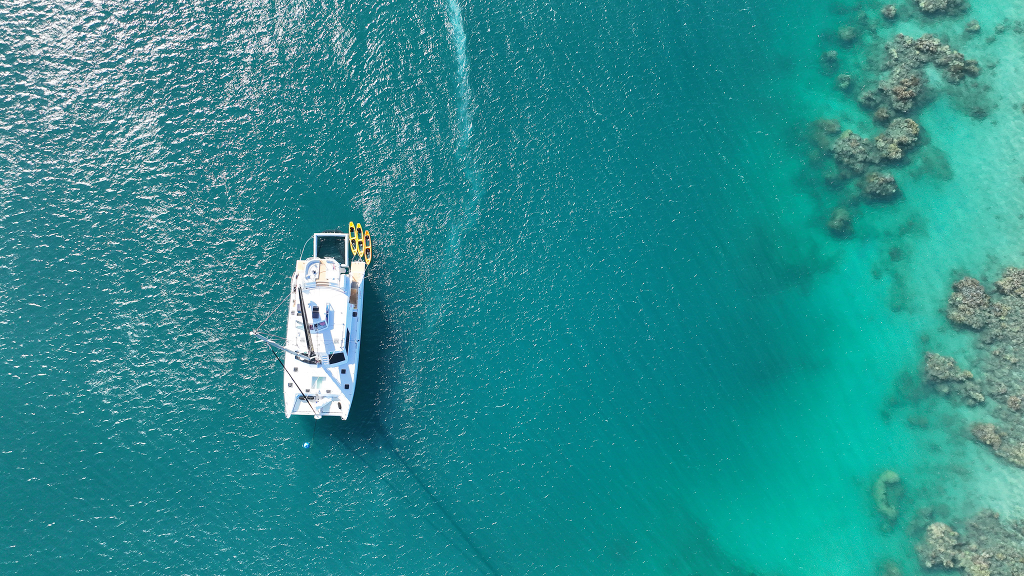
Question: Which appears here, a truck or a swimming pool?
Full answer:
This aerial view contains a swimming pool.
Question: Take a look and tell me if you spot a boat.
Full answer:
Yes, a boat is visible in the scene.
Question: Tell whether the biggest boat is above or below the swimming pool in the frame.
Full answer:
From this view, the biggest boat can be seen below the swimming pool.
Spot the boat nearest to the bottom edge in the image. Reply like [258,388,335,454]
[248,258,368,421]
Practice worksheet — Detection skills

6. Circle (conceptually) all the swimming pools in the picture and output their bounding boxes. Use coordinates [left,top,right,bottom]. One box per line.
[312,233,349,268]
